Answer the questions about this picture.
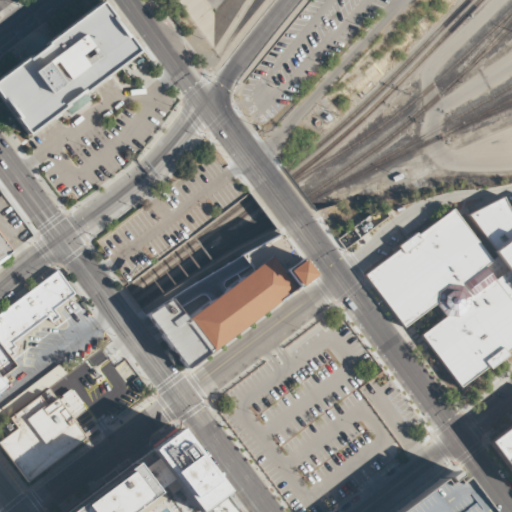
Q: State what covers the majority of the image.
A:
paved ground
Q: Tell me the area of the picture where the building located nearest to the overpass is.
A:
center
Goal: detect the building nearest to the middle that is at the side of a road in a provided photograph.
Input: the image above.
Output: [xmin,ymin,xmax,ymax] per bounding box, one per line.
[152,236,322,366]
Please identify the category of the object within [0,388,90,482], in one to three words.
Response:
building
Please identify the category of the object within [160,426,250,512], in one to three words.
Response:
building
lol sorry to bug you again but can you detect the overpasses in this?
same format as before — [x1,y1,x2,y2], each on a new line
[245,161,320,228]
